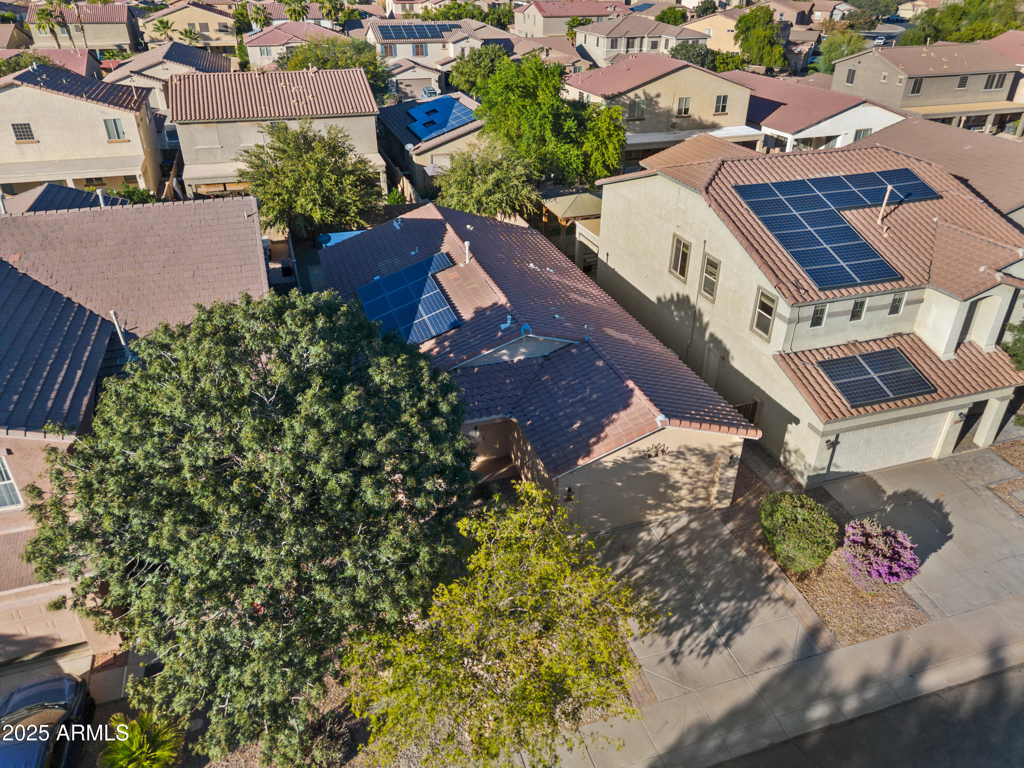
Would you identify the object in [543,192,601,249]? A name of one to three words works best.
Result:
gazebo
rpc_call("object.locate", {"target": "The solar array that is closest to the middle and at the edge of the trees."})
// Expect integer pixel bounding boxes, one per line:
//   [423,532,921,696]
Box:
[355,247,458,340]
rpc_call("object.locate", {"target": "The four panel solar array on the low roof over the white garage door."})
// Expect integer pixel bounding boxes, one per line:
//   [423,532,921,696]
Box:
[819,345,939,404]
